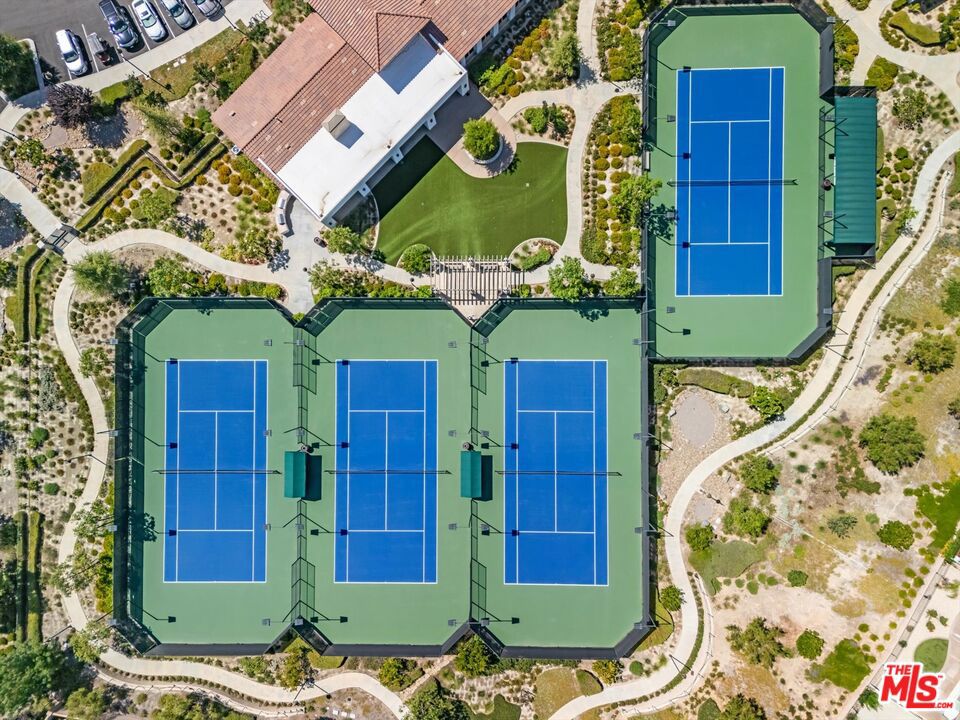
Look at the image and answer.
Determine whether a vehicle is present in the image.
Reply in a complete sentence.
Yes, there is a vehicle in the image.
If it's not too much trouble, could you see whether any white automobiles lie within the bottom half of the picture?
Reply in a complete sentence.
No, there is no white automobile within the bottom half of the picture.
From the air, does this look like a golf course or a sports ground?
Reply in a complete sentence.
The area seen from above is a sports ground.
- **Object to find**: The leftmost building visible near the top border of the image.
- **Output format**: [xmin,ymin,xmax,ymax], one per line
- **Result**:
[210,0,520,231]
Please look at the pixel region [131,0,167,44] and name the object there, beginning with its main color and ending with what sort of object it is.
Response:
white car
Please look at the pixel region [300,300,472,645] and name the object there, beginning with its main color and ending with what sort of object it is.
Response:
green tennis court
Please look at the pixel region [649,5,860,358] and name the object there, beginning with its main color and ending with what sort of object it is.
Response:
green tennis court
